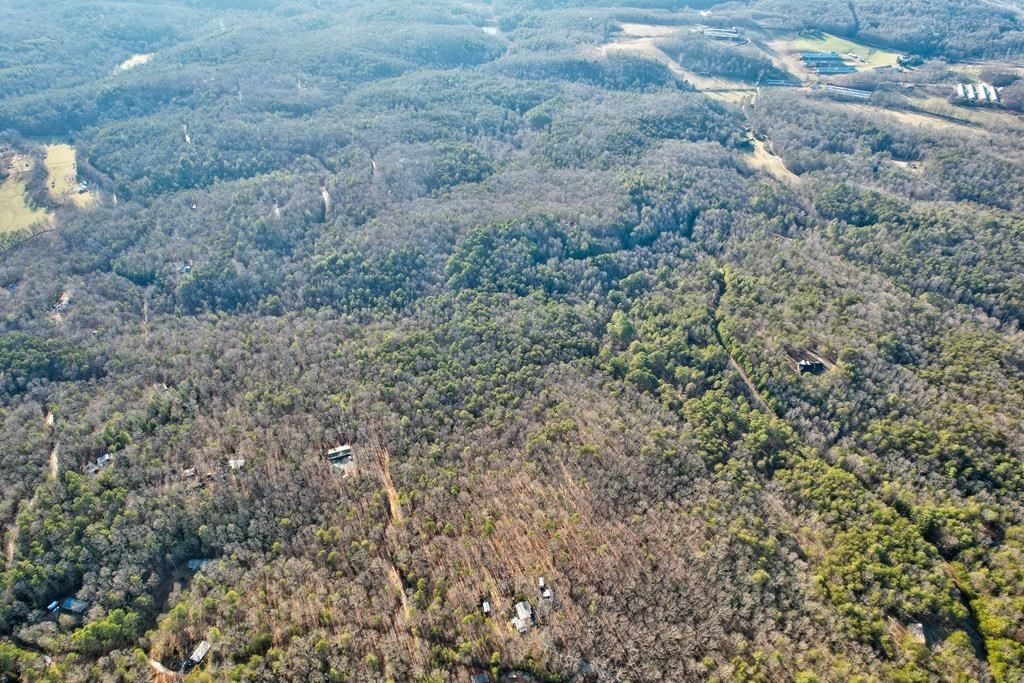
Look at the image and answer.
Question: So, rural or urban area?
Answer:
rural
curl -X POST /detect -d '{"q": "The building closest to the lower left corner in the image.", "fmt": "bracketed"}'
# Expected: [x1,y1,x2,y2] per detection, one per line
[56,594,88,615]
